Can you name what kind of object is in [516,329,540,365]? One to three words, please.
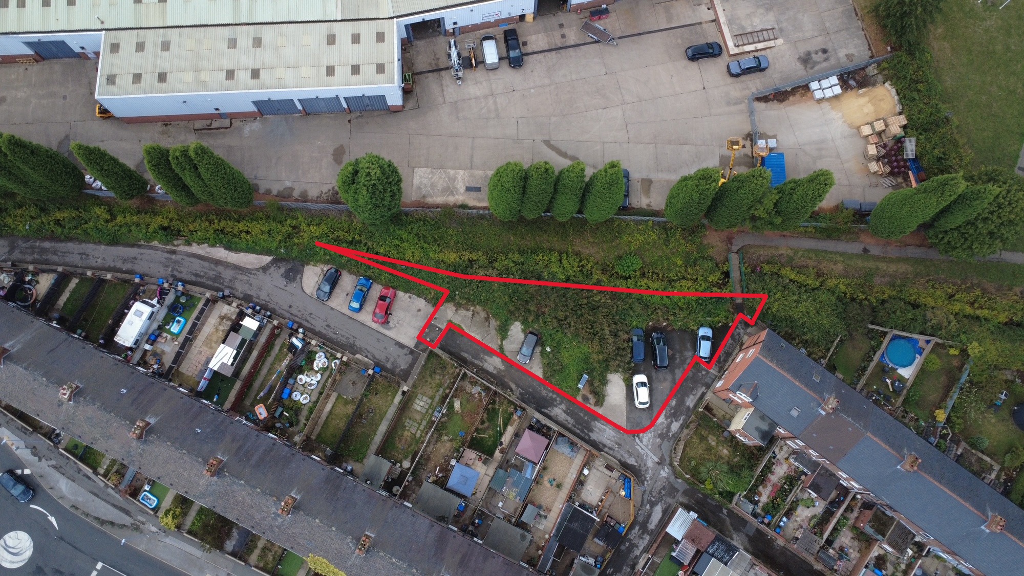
car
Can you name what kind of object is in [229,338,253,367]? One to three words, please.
greenhouse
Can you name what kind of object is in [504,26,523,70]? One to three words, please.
vehicle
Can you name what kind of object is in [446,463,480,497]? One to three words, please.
gazebo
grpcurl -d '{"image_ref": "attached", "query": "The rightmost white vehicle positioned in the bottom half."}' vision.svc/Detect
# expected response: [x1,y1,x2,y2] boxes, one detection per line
[632,374,651,408]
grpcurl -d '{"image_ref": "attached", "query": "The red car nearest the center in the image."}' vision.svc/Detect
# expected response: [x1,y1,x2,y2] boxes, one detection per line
[371,286,396,325]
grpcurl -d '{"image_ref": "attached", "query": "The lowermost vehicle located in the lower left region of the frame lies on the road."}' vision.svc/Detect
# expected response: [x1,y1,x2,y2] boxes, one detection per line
[0,467,35,503]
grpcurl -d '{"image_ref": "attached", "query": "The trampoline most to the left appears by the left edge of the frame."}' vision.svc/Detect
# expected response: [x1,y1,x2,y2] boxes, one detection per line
[7,282,40,307]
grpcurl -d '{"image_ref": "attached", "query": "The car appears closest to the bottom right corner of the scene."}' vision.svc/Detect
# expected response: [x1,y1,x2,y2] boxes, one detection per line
[696,326,715,361]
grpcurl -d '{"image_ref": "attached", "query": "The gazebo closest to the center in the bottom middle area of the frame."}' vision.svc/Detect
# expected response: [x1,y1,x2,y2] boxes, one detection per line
[515,429,549,464]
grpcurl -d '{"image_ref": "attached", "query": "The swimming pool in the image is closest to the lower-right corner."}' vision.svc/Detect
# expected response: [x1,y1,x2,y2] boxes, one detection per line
[879,335,917,370]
